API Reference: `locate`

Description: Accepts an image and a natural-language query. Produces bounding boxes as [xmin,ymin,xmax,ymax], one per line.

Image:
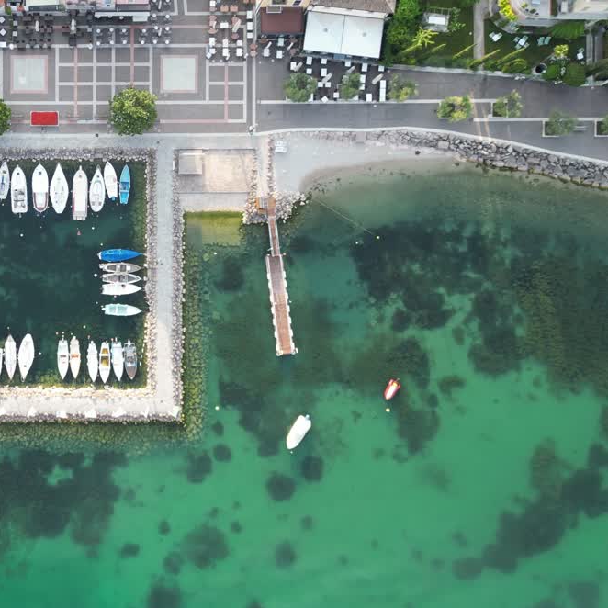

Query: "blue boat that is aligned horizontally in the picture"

[96,249,149,262]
